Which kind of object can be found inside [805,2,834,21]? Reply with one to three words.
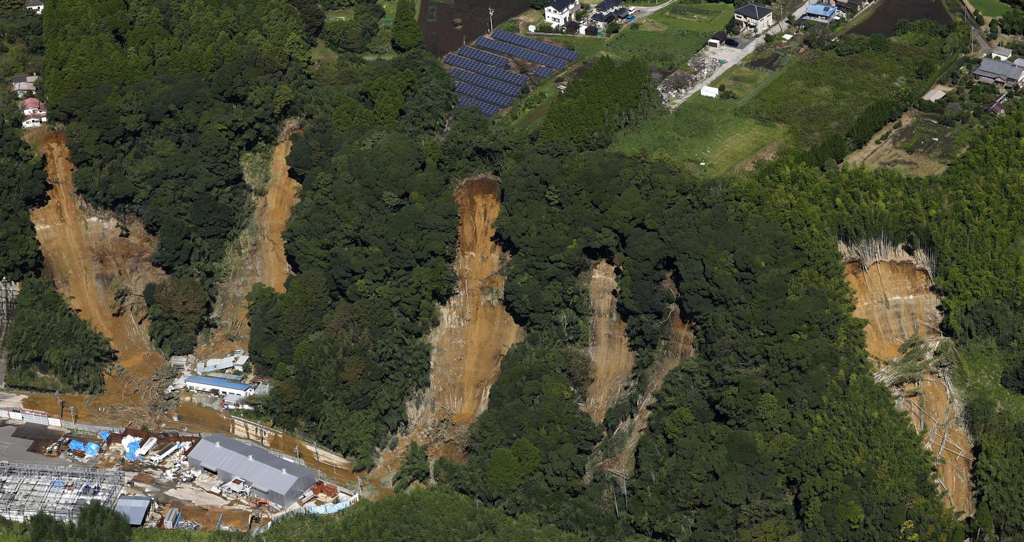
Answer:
house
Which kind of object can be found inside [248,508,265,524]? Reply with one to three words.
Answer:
work vehicle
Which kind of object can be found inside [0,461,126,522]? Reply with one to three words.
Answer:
building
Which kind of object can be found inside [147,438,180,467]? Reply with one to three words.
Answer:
truck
